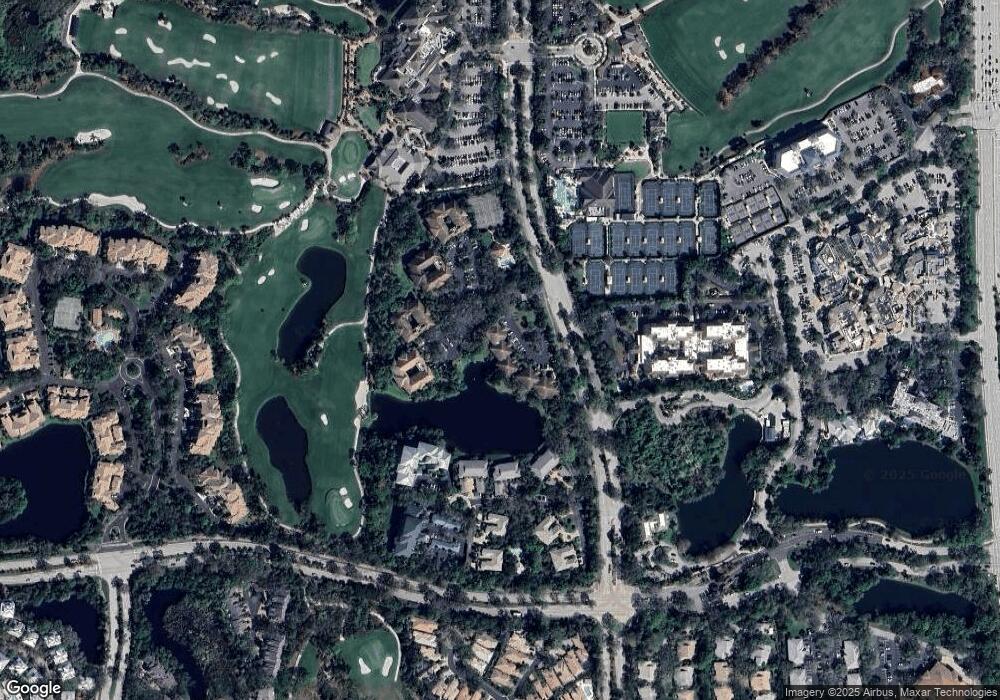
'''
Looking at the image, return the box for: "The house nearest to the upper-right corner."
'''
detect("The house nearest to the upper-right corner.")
[911,76,945,95]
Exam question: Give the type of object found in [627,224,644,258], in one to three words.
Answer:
tennis court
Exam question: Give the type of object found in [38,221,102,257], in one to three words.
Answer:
building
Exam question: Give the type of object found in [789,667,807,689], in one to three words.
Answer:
house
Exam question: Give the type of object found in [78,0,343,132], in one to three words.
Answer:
golf course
